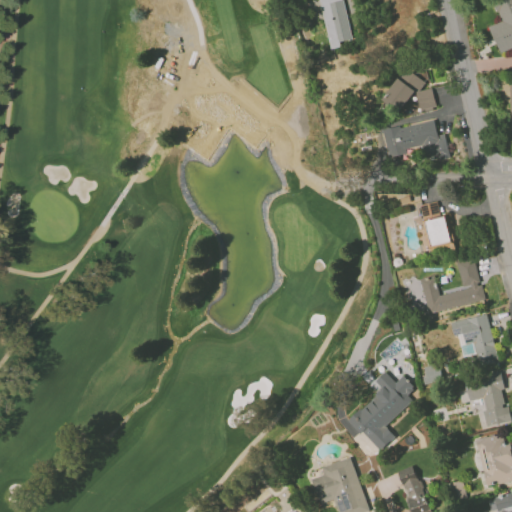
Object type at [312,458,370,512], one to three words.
house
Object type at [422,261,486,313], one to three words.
house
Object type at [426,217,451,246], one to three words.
building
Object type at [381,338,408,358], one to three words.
swimming pool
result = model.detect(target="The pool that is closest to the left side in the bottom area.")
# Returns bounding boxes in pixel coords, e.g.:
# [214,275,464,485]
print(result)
[316,442,342,460]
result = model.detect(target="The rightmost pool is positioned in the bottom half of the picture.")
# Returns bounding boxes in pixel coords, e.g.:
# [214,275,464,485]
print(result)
[460,341,476,358]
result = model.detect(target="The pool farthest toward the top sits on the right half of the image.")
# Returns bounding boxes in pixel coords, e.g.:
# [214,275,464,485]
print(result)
[404,226,420,250]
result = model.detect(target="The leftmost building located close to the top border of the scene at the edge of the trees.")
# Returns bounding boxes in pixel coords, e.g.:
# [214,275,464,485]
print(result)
[324,0,353,49]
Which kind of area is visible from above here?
golf course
